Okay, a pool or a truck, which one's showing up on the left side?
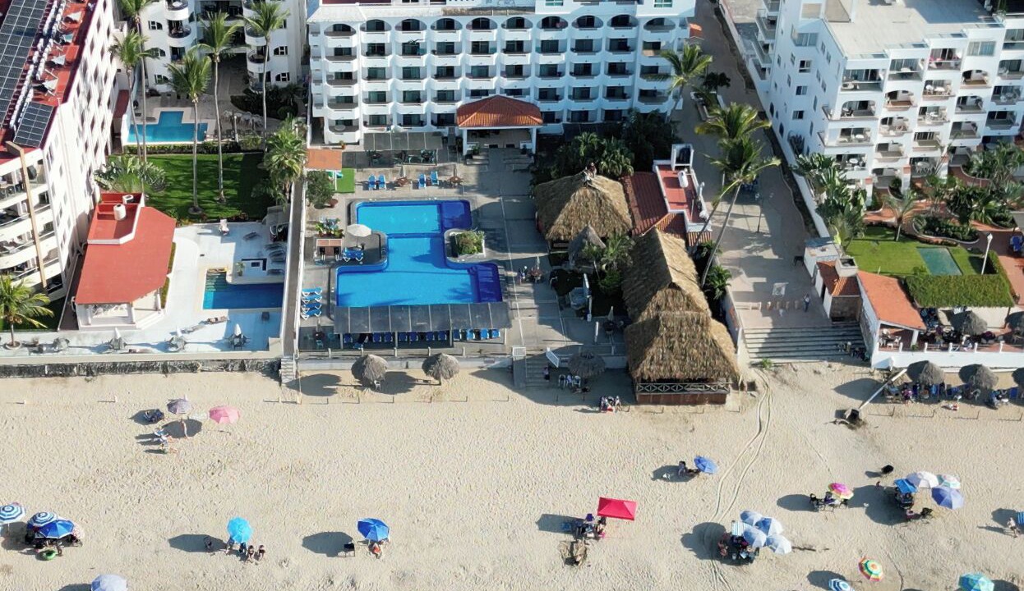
pool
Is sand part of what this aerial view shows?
Yes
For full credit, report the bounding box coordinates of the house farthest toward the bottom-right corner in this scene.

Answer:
[854,268,927,379]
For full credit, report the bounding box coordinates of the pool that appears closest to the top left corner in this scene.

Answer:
[145,111,207,141]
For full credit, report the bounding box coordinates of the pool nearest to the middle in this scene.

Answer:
[336,200,502,307]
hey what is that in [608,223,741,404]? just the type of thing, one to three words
building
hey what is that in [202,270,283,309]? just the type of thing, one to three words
swimming pool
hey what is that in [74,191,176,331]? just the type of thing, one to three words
building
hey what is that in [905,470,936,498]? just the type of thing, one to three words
umbrella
